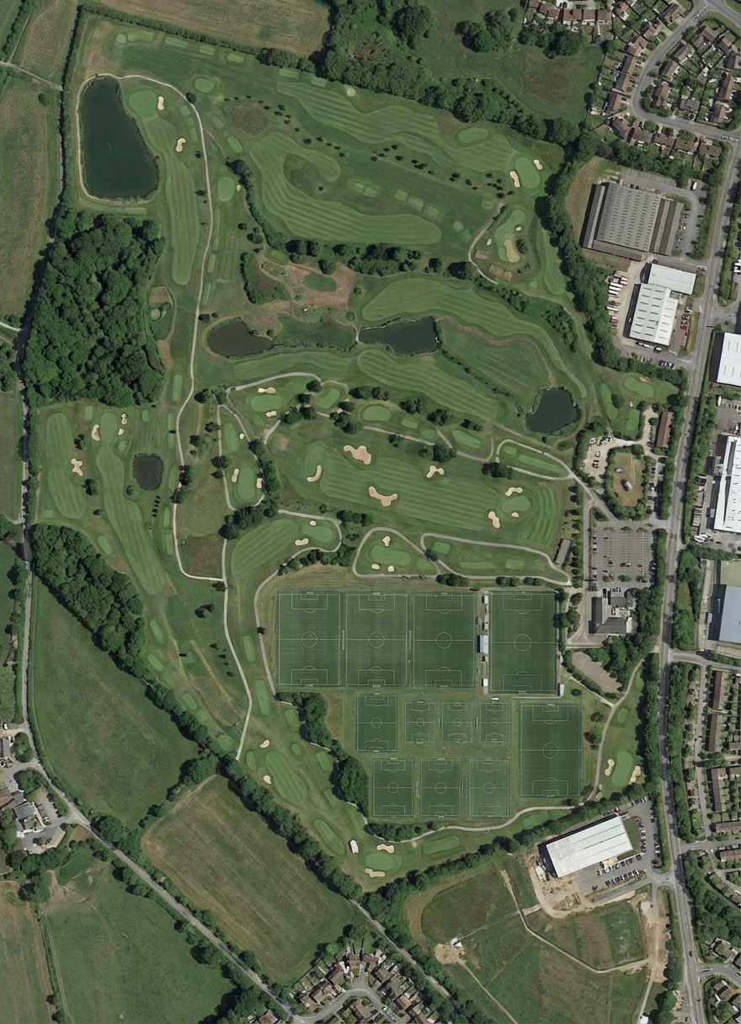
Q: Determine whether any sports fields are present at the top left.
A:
No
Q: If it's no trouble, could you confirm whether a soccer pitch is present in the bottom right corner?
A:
Yes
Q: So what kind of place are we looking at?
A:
golf course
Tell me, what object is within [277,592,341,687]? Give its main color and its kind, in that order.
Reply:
green soccer field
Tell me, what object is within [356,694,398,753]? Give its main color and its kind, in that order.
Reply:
green soccer field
